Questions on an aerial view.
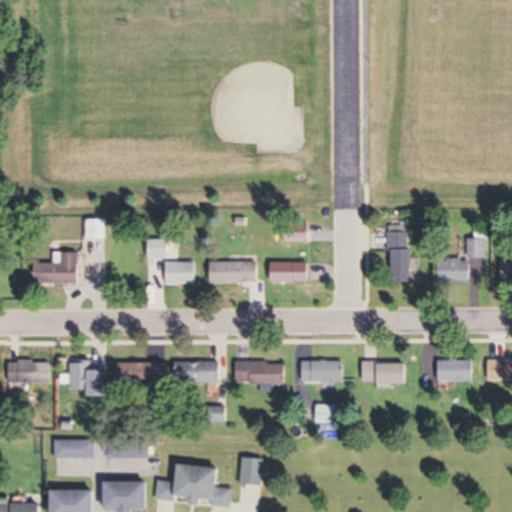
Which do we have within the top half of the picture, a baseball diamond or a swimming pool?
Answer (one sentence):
Visible within the top half of the picture is a baseball diamond.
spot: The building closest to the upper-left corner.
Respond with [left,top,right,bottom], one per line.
[84,218,106,240]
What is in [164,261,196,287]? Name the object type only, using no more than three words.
house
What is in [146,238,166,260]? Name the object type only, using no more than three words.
building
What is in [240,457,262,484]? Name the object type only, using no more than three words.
building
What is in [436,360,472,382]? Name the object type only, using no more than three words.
house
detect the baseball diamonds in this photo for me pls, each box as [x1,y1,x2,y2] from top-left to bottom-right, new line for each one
[212,61,306,154]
